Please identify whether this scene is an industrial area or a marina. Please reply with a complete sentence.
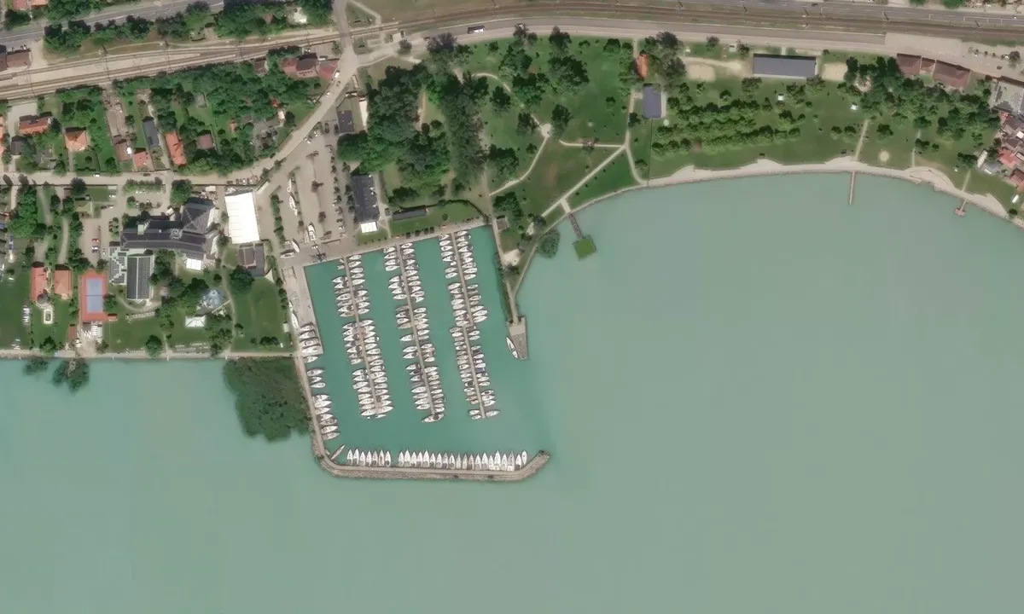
The picture captures a marina.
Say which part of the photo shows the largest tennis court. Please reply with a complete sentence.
The largest tennis court appears toward the left of the photo.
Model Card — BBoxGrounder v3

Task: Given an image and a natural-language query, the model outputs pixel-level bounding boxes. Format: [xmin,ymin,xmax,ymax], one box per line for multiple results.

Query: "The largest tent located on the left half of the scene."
[225,192,262,244]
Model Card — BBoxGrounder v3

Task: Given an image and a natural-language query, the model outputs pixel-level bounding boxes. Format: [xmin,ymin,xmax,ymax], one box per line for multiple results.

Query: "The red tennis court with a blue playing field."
[80,271,107,322]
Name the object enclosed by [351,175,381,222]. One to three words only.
building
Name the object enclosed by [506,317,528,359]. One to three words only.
pier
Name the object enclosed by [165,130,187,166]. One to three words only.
house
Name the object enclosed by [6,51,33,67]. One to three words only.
building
